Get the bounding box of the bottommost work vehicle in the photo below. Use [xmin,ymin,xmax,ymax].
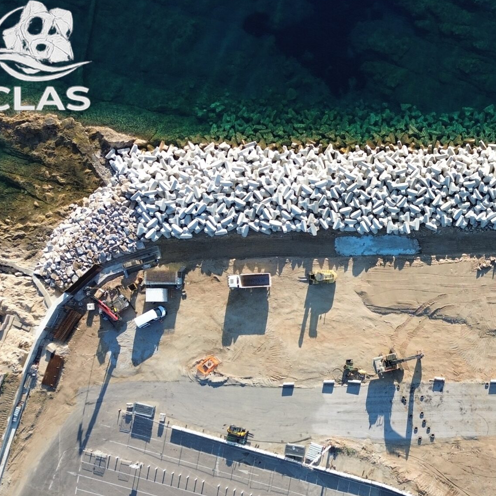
[227,424,258,440]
